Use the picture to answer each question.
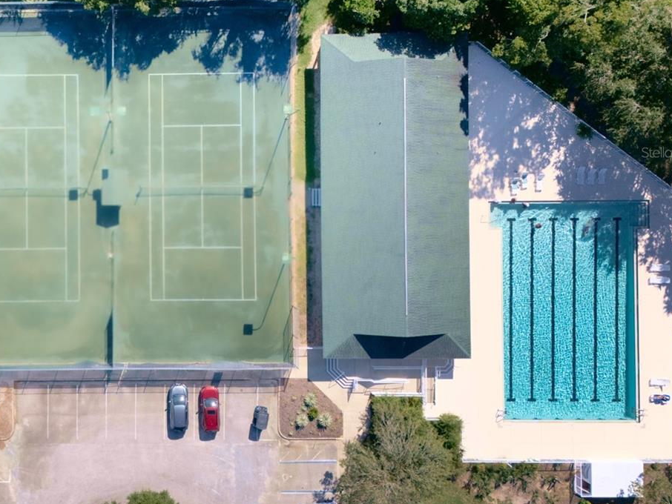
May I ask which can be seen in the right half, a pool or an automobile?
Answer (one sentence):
It is a pool that can be seen in the right half.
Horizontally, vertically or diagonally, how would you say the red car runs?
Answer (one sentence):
From this overhead view, the red car appears to run vertically.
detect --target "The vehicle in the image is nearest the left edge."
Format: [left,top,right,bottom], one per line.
[167,382,189,431]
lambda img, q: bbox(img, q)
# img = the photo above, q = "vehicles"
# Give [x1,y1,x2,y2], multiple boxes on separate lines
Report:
[251,404,269,434]
[199,386,221,431]
[167,382,189,431]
